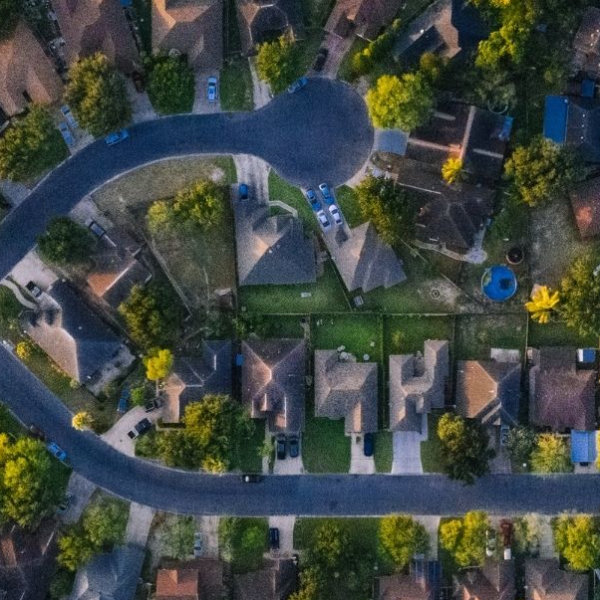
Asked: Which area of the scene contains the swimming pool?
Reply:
right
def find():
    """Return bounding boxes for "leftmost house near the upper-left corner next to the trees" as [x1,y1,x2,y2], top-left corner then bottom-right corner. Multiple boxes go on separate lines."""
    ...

[0,24,64,113]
